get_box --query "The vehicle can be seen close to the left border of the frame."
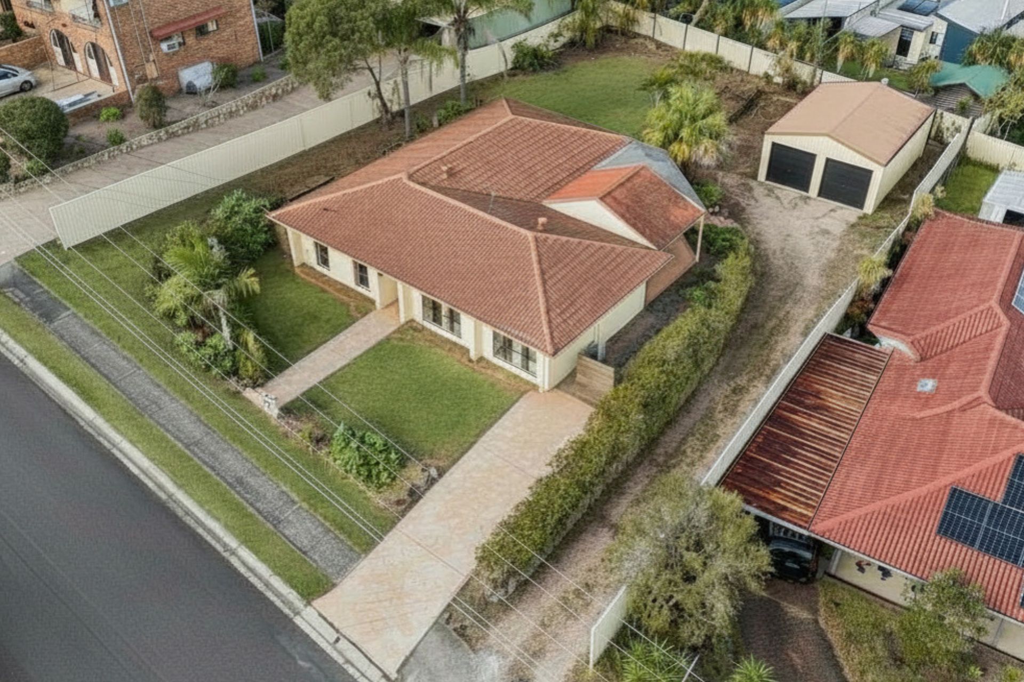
[0,68,45,94]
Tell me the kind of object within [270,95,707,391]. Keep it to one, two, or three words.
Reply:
house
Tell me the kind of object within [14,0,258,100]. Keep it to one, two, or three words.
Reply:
building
